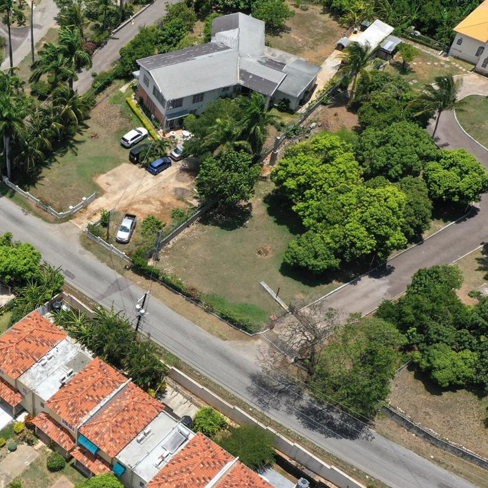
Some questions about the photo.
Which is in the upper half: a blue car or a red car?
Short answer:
blue car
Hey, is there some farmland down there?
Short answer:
No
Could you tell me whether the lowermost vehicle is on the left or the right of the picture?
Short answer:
left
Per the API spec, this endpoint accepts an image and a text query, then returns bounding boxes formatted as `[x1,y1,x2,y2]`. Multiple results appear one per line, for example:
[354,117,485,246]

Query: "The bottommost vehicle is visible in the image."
[116,213,136,243]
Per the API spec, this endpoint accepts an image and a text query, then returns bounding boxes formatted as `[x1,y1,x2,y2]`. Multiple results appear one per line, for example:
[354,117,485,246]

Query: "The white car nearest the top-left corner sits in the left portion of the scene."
[119,129,148,146]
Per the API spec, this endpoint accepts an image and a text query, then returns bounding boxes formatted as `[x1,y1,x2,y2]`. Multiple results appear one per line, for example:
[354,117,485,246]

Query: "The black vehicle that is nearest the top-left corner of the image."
[125,143,155,163]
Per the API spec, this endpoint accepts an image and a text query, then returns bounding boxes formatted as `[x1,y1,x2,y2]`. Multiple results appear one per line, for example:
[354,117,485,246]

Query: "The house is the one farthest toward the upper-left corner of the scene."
[132,11,319,125]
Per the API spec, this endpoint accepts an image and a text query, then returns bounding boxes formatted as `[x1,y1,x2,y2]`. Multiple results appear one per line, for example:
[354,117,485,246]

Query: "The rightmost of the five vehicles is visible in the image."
[165,142,192,163]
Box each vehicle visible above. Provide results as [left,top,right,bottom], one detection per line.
[119,129,148,146]
[165,142,192,163]
[145,158,172,175]
[116,213,136,243]
[125,143,155,163]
